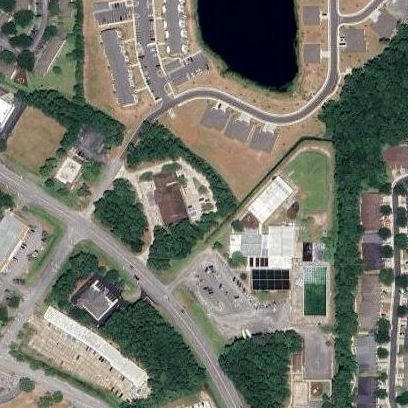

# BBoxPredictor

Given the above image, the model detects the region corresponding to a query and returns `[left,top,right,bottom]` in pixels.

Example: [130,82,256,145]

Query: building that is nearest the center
[151,172,187,224]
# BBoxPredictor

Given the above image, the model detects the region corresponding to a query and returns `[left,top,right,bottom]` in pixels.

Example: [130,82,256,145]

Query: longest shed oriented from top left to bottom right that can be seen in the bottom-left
[44,306,147,388]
